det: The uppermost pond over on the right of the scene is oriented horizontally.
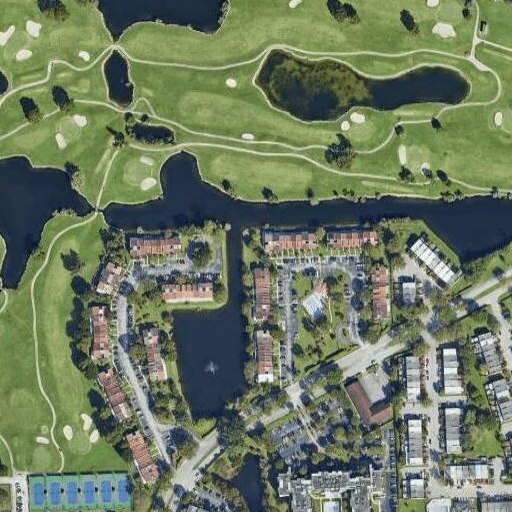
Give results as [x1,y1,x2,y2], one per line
[256,51,469,122]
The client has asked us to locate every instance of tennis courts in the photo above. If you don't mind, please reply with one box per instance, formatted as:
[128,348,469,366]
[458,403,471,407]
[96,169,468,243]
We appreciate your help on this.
[29,475,47,508]
[98,475,114,508]
[47,475,64,508]
[81,475,98,508]
[114,475,131,508]
[64,475,81,508]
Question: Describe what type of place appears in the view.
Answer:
golf course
